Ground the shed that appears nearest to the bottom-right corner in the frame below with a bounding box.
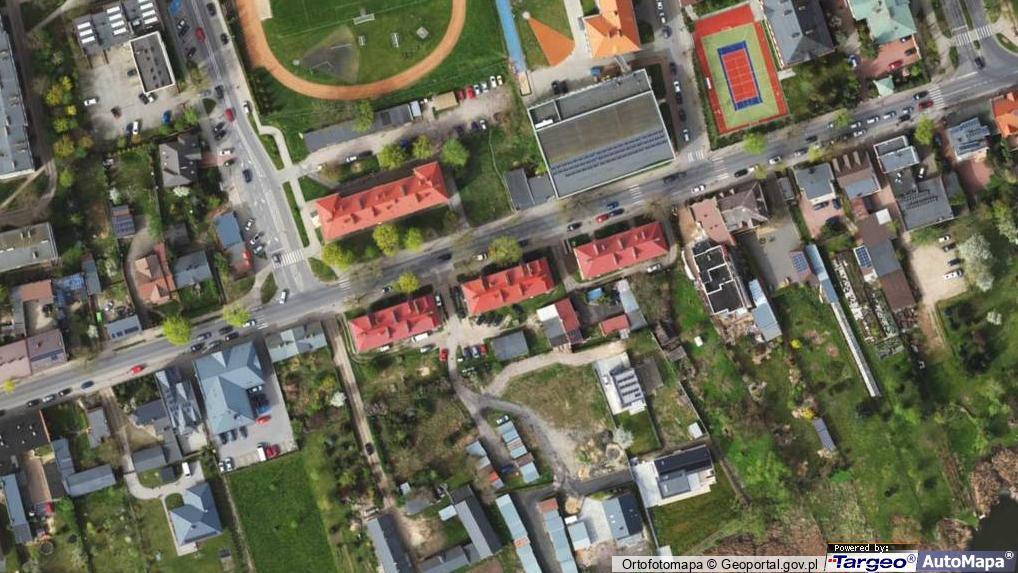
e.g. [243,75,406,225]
[812,418,836,453]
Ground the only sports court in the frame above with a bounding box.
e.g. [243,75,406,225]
[697,4,788,134]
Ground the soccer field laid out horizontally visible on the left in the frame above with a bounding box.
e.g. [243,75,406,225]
[256,0,452,87]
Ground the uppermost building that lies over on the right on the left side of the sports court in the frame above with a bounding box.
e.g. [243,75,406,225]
[584,0,640,60]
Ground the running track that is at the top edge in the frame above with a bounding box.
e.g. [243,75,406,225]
[236,0,467,99]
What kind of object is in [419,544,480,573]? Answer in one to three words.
barn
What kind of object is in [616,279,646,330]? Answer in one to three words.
shed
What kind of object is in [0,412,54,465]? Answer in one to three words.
building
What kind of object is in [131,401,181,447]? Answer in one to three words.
house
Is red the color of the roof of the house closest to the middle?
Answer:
Yes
